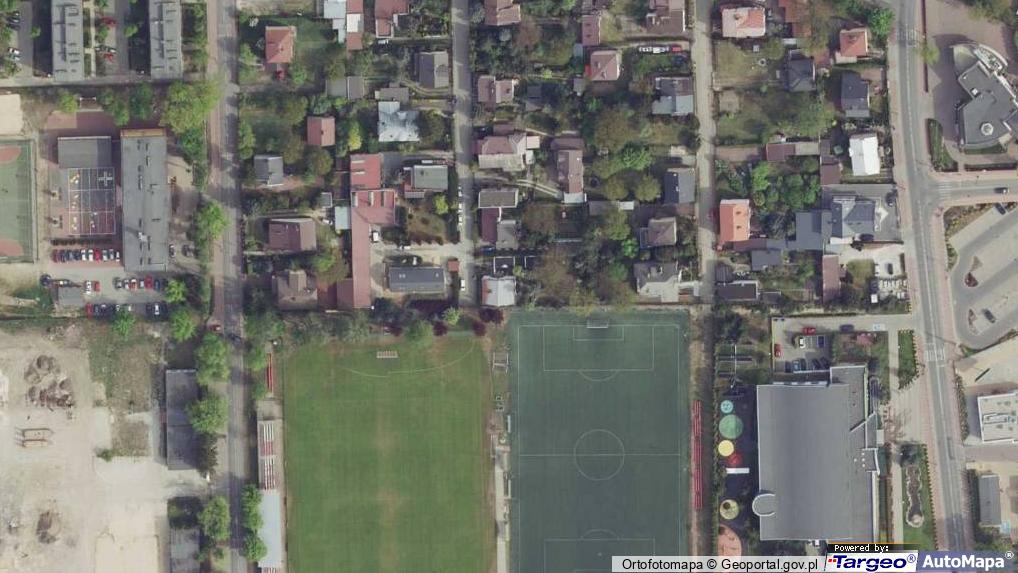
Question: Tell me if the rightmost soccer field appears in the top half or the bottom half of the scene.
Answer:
bottom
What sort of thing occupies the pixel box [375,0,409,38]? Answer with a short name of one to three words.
house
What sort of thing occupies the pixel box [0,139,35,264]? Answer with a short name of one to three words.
sports court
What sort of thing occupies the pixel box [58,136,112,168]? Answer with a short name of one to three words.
building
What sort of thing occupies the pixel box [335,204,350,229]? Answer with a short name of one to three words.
shed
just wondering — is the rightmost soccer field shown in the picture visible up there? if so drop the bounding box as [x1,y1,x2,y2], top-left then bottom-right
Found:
[509,309,690,573]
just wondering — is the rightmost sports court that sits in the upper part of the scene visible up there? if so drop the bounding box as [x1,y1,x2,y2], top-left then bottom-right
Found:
[69,168,115,235]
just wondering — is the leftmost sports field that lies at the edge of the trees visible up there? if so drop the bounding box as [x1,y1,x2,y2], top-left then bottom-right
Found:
[269,312,510,573]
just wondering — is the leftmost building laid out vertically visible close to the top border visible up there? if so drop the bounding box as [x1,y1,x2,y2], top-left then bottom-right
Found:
[52,0,85,81]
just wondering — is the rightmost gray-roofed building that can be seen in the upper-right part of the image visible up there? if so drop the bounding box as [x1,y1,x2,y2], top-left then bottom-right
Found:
[949,37,1018,153]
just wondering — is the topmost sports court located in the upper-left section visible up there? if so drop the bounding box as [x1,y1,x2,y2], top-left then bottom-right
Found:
[0,95,21,135]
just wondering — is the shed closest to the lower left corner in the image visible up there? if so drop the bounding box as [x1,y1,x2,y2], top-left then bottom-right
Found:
[169,526,201,573]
